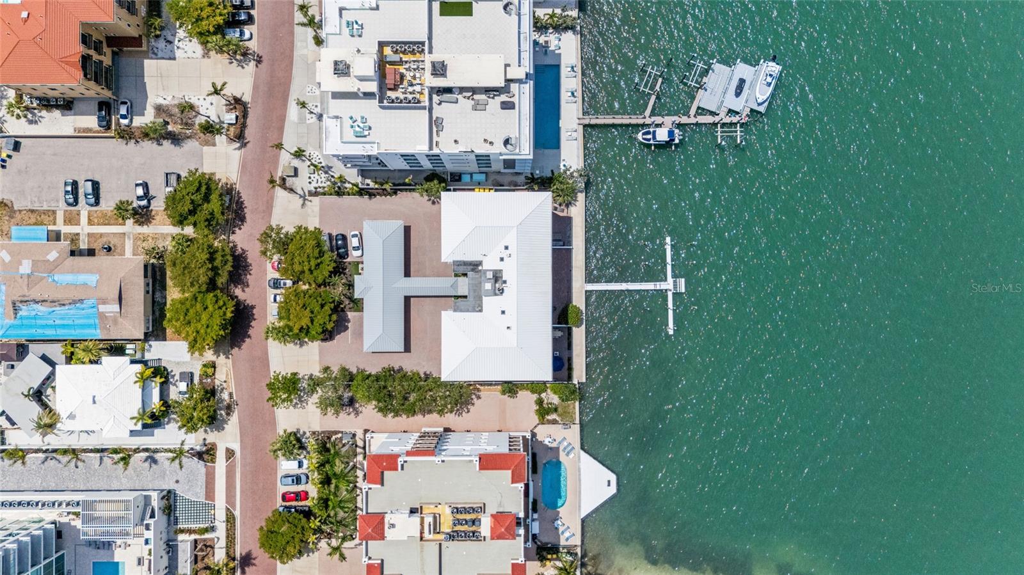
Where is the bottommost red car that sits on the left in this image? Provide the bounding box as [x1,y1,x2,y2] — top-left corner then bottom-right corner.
[282,490,310,503]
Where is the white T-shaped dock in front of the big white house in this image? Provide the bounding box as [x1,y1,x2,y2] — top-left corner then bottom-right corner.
[585,237,685,334]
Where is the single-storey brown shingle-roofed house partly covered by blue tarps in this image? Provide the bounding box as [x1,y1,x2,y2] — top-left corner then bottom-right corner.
[0,241,150,339]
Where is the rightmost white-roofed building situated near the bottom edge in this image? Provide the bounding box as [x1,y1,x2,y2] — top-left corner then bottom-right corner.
[358,426,531,575]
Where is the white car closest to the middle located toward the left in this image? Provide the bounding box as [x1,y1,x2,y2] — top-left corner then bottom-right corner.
[350,230,363,258]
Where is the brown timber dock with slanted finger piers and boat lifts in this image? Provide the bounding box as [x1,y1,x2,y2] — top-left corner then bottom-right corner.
[582,76,750,127]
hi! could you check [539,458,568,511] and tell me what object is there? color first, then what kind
blue swimming pool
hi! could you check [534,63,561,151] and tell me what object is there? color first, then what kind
blue swimming pool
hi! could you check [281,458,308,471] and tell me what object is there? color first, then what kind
white vehicle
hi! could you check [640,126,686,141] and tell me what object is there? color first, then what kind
white boat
